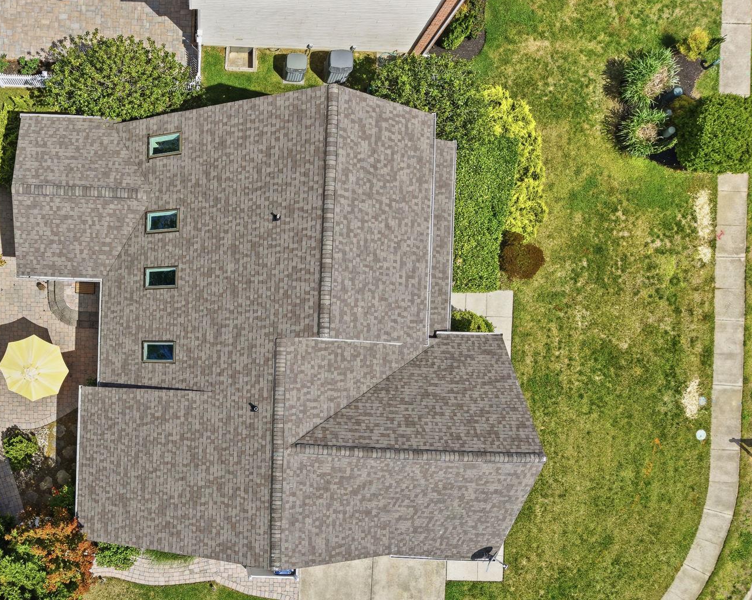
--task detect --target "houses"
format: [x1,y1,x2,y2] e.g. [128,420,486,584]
[12,85,545,587]
[187,0,474,56]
